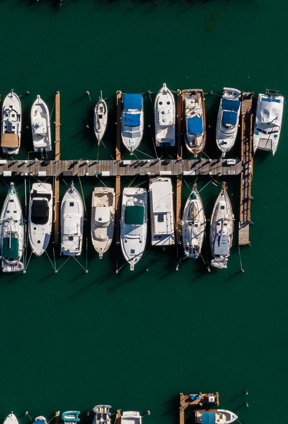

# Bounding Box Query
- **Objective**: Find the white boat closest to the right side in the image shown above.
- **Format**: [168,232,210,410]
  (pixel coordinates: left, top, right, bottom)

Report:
[252,88,287,157]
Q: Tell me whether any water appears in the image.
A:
Yes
